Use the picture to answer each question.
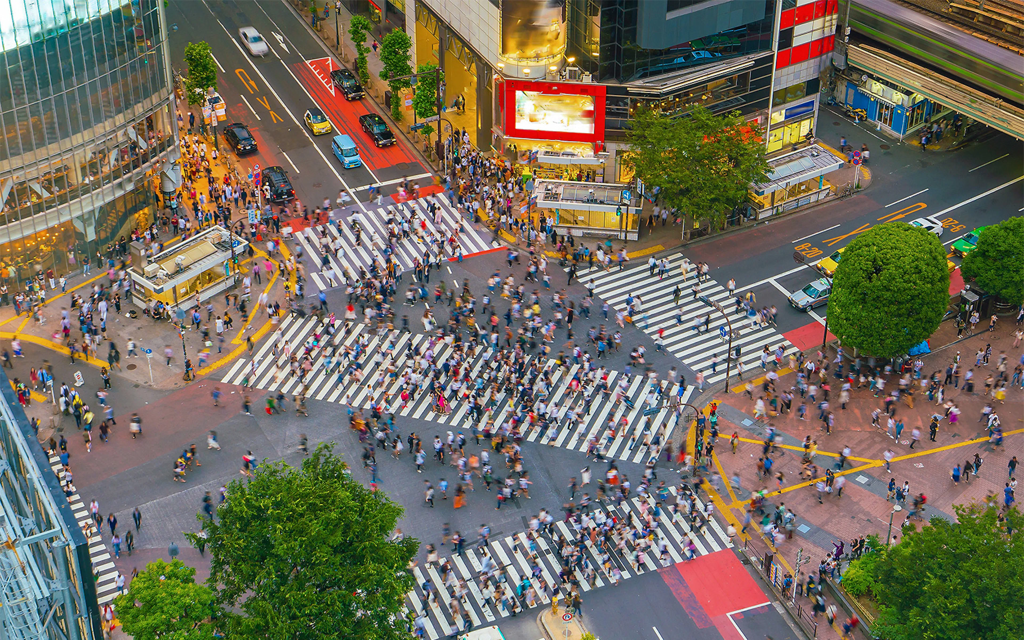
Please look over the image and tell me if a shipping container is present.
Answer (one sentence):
No, no shipping container can be seen from above.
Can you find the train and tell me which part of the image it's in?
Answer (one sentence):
The train appears toward the top right of the photo.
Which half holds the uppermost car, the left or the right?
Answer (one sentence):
The uppermost car appears in the left half of the scene.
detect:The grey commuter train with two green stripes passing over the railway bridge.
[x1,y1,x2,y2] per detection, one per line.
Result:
[837,0,1024,105]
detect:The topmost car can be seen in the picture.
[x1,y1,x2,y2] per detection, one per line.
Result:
[237,27,270,55]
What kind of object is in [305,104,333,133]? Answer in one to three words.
car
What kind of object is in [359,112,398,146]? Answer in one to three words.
car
